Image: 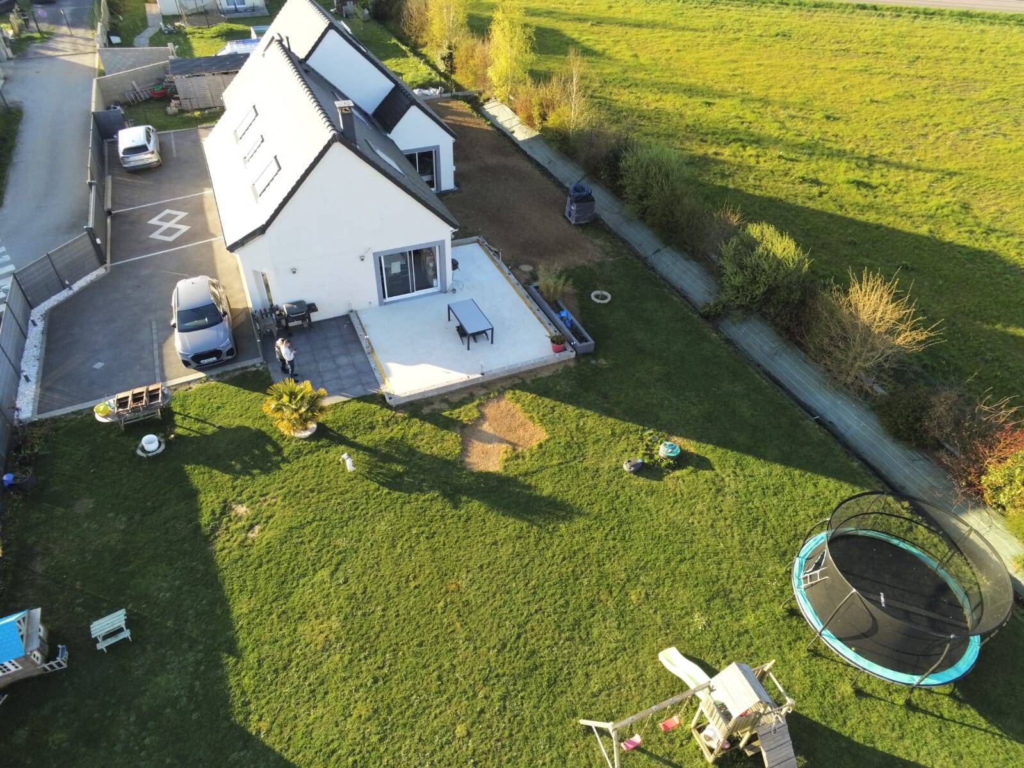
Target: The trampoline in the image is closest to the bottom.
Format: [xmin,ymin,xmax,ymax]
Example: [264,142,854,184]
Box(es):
[784,493,1014,707]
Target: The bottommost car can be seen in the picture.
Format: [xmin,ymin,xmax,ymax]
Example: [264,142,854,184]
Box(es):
[173,277,241,370]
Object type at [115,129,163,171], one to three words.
car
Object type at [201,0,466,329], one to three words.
house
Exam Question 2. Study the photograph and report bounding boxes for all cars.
[173,277,241,370]
[115,129,163,171]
